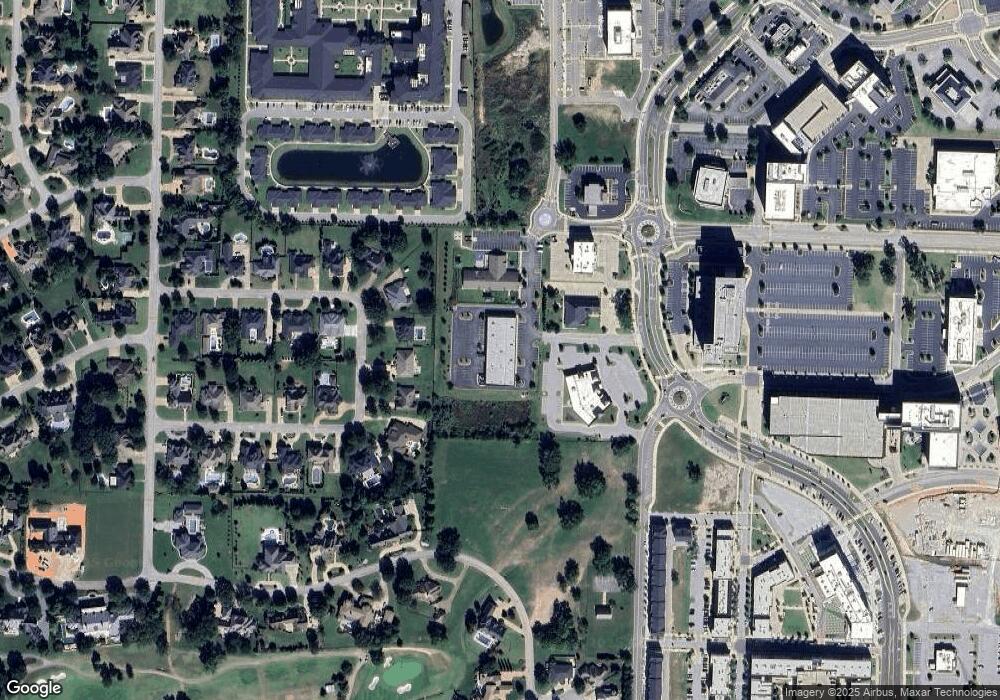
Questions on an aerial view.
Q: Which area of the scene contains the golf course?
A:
bottom left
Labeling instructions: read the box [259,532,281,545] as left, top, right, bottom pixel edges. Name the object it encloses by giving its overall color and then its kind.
white swimming pool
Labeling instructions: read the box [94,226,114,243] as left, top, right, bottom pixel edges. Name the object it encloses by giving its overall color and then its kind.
white swimming pool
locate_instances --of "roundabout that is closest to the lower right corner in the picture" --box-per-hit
[660,378,700,418]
